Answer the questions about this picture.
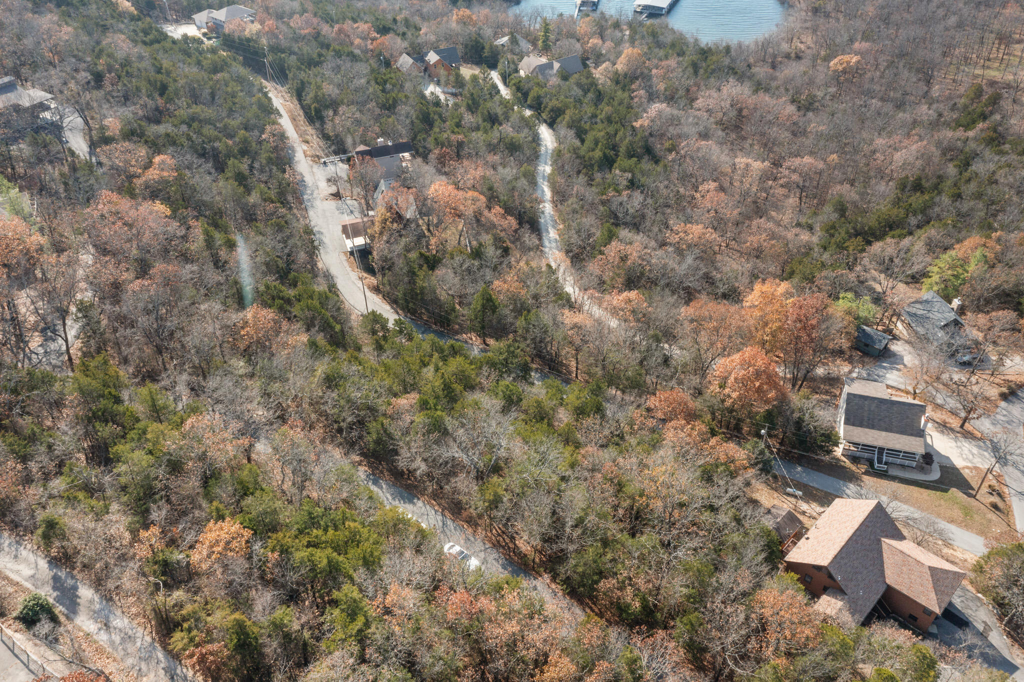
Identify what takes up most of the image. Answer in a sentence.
For the most part, this view shows trees.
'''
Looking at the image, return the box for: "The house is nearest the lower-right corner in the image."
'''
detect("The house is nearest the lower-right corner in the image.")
[768,496,965,668]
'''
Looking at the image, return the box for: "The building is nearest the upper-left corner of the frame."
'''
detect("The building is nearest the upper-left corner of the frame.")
[0,73,64,130]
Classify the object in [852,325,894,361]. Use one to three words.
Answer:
shed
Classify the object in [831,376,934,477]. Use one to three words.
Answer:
house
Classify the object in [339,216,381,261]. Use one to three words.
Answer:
building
